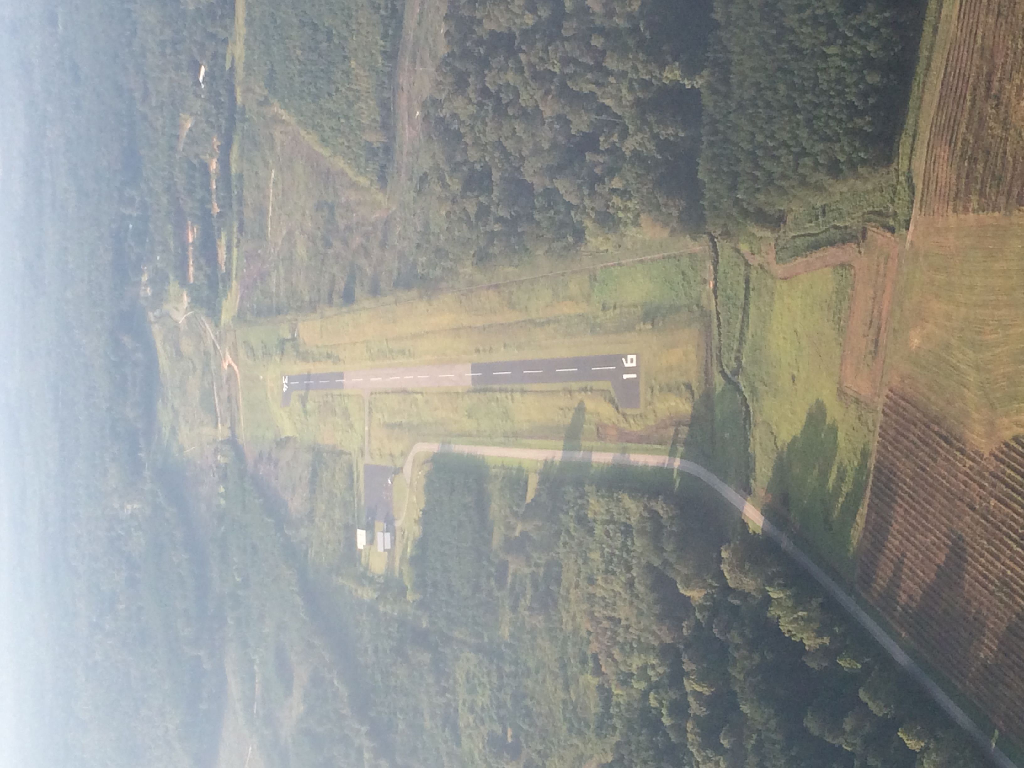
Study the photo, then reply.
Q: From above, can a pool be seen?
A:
No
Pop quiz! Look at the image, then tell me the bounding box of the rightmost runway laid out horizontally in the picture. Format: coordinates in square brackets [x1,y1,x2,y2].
[471,353,640,408]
